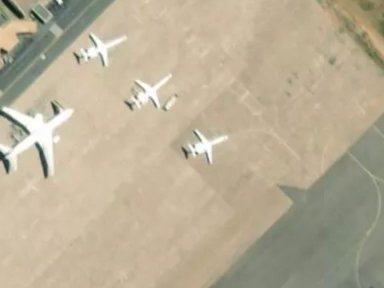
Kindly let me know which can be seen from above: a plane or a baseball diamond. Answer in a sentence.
Of the two, only a plane appears.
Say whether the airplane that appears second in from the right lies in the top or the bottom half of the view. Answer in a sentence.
Seen from above, the airplane that appears second in from the right lies in the top half of the view.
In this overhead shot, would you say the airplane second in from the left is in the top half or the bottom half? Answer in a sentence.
The airplane second in from the left is in the top half of the image.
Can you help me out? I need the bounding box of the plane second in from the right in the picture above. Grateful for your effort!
[130,75,171,110]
